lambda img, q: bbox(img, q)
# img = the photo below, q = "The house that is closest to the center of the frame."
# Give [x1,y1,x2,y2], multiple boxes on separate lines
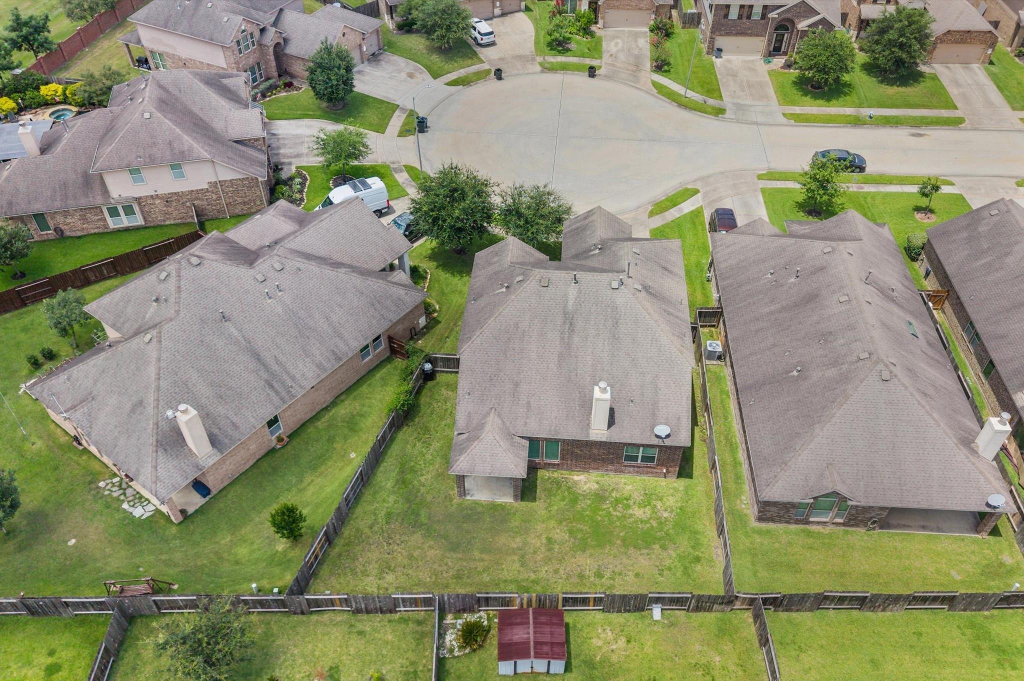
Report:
[448,206,695,502]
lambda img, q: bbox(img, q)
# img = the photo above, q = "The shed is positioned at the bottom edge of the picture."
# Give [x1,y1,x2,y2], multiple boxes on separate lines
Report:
[498,608,568,676]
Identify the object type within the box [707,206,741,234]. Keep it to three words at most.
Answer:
car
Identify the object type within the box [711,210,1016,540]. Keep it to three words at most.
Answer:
house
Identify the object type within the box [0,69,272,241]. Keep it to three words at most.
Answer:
house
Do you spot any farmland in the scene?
No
